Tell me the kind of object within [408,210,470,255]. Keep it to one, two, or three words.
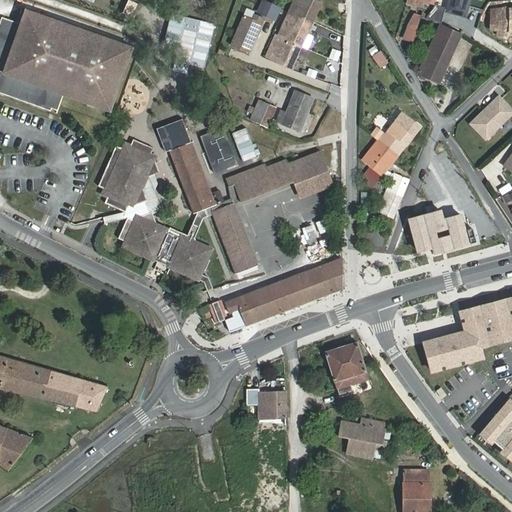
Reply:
building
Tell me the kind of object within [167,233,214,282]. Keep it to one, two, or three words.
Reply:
building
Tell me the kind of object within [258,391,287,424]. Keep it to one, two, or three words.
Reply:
house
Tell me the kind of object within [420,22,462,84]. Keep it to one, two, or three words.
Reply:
barn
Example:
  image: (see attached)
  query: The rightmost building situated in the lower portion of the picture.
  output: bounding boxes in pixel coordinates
[480,398,512,462]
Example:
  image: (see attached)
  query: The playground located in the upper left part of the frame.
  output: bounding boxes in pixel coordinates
[122,79,149,115]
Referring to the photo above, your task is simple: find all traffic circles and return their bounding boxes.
[154,346,228,419]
